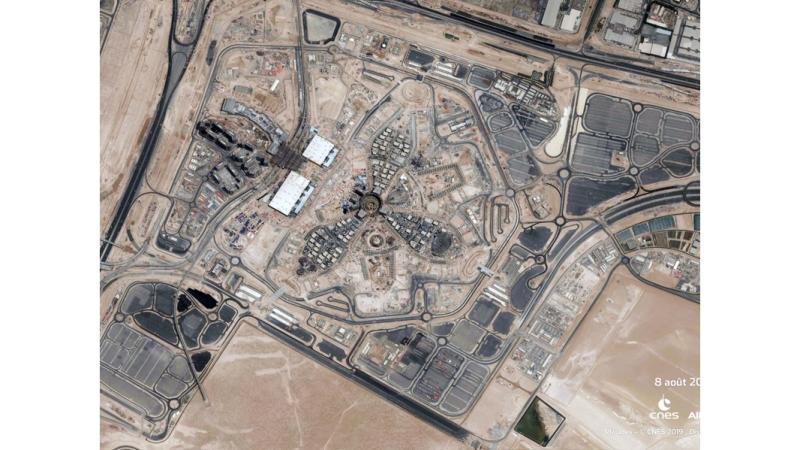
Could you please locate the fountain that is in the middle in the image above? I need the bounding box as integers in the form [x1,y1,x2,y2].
[368,233,385,249]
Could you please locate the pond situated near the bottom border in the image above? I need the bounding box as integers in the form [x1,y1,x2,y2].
[511,394,568,450]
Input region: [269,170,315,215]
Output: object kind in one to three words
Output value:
building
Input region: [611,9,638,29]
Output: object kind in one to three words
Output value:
building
